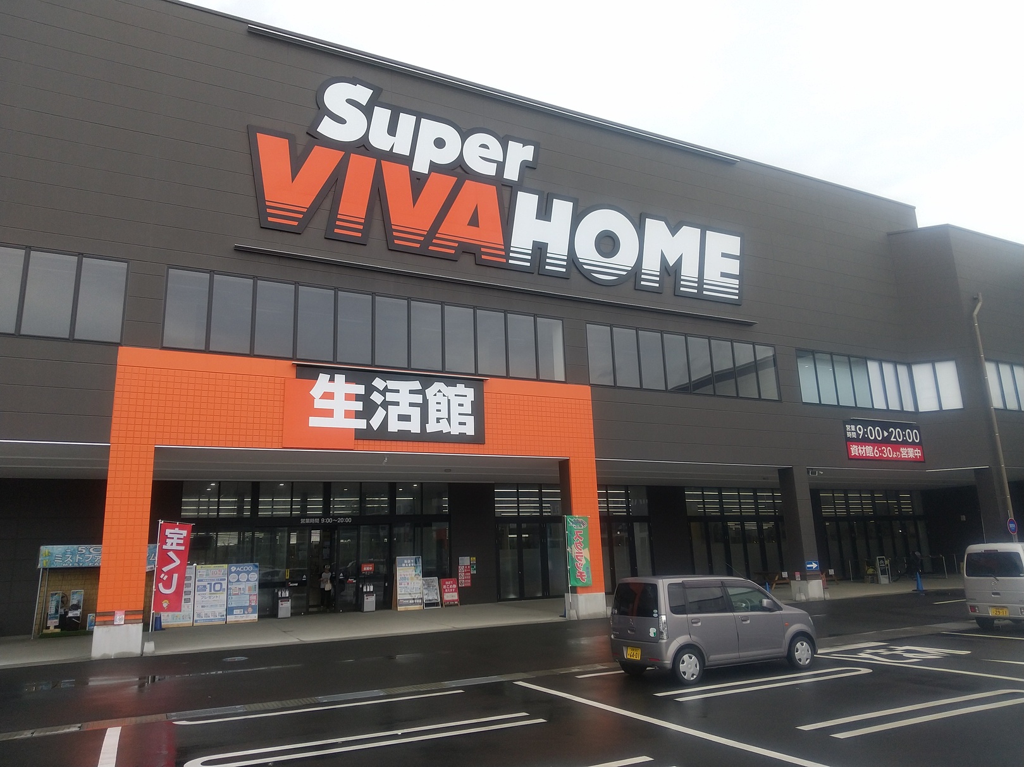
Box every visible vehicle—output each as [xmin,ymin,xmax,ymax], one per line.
[966,522,1024,629]
[608,557,816,685]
